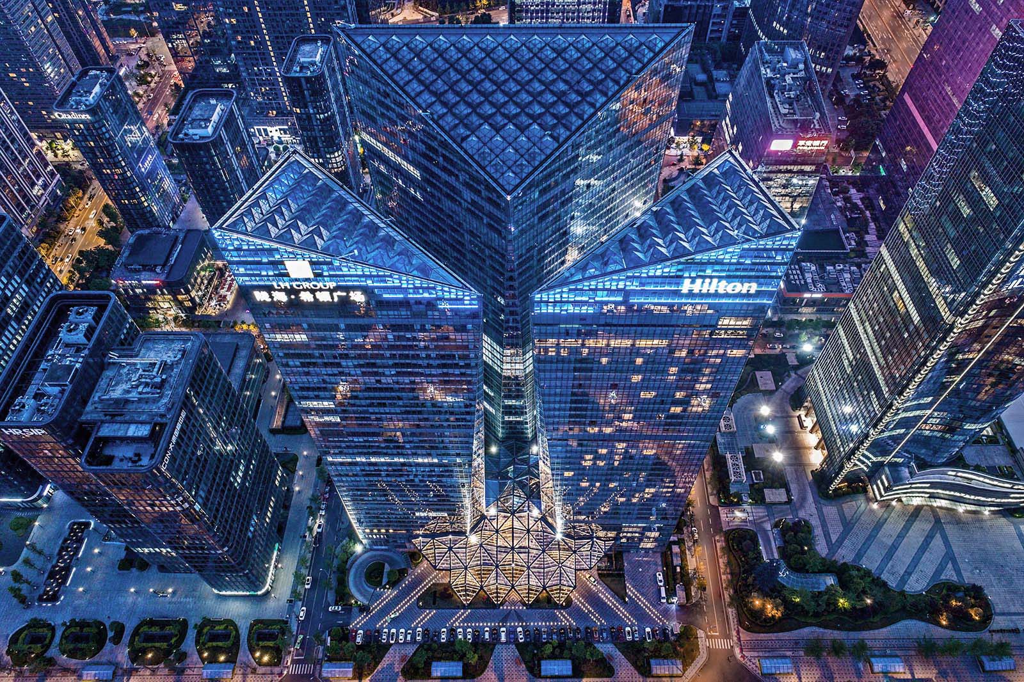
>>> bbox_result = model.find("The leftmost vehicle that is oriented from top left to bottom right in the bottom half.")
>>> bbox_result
[585,571,600,586]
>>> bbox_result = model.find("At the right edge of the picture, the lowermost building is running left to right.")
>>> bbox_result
[873,466,1024,511]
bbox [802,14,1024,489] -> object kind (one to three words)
building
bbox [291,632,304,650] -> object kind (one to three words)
vehicle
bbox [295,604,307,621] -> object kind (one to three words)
vehicle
